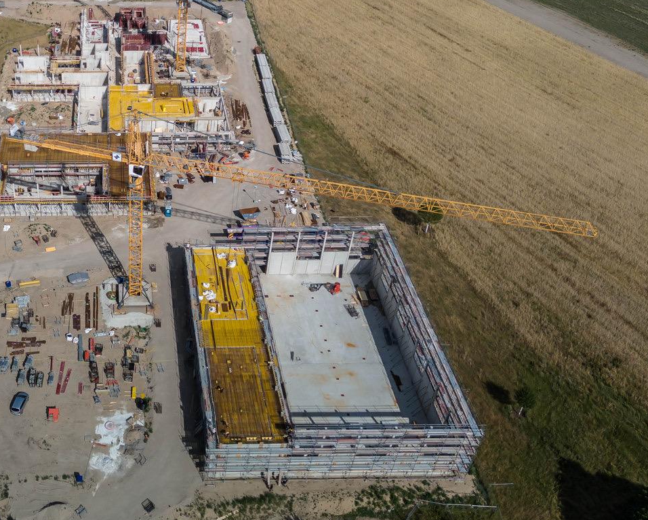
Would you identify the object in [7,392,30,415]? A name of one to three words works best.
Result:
car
